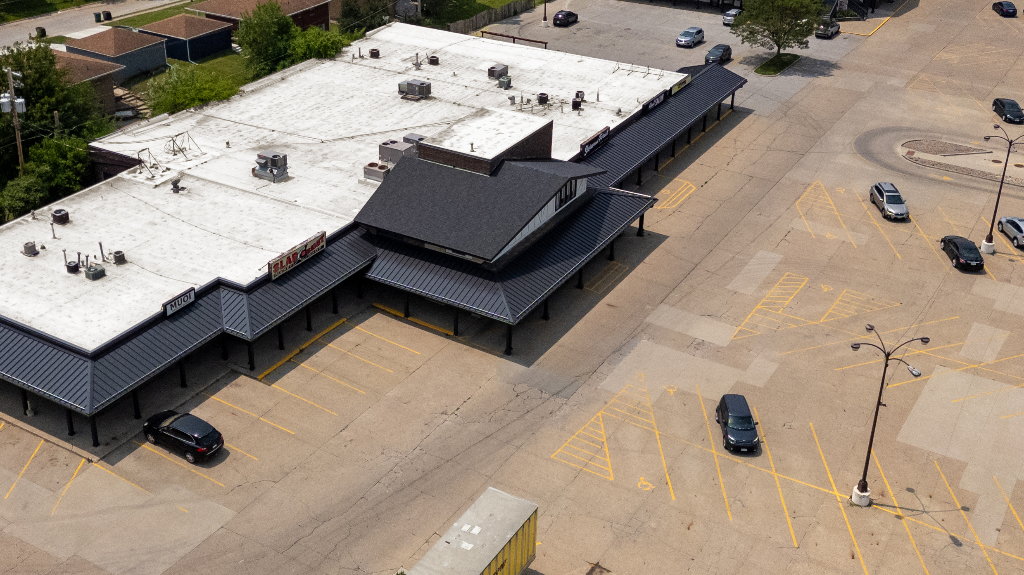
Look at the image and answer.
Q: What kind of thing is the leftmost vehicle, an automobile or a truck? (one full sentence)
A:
The leftmost vehicle can be classified as an automobile.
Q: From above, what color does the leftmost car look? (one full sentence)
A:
The color of the leftmost car is black.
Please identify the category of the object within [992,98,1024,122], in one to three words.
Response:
car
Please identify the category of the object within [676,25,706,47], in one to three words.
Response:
car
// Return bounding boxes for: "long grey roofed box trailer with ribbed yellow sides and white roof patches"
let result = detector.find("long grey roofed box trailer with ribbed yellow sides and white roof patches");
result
[404,487,539,575]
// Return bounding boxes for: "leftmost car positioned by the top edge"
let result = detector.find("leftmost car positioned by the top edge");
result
[552,9,581,27]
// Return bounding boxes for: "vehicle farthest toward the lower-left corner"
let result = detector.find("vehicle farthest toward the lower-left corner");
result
[139,409,225,462]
